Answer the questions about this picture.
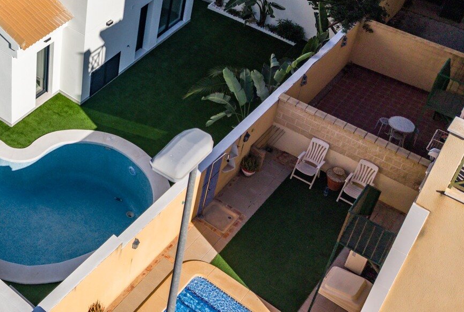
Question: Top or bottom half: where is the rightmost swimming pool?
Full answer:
The bottom half of the photo is where the rightmost swimming pool is.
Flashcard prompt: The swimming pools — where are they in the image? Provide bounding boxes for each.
[170,260,274,312]
[0,130,167,285]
